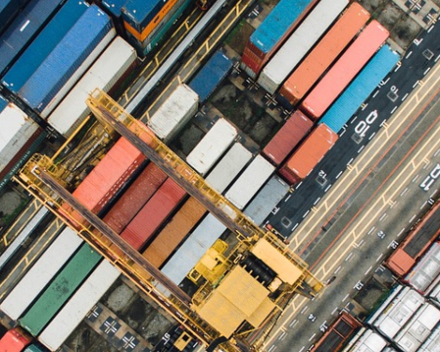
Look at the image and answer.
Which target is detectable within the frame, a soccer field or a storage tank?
storage tank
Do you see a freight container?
Yes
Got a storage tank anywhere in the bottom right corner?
Yes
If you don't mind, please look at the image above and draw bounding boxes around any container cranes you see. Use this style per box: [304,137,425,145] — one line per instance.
[14,79,332,352]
